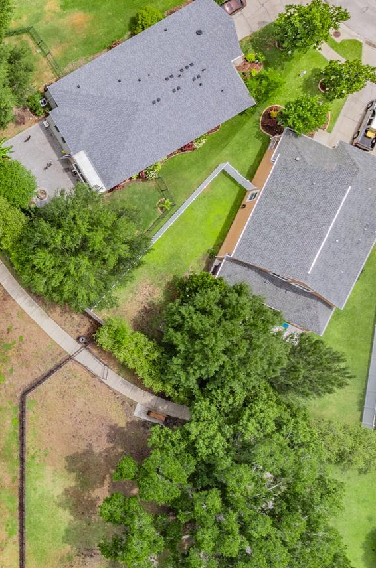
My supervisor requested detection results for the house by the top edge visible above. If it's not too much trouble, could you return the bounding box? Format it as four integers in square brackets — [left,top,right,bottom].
[46,0,256,195]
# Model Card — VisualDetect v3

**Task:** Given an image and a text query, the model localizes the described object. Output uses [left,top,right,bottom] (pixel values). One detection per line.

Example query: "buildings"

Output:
[199,126,376,335]
[46,0,256,195]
